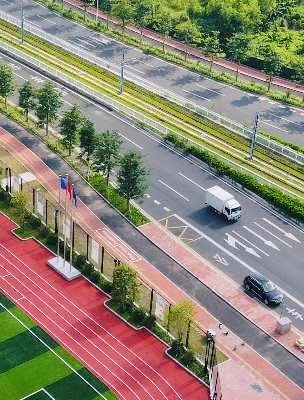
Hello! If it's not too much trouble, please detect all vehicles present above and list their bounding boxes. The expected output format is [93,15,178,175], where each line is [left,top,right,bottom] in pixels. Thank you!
[242,271,283,303]
[196,179,241,219]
